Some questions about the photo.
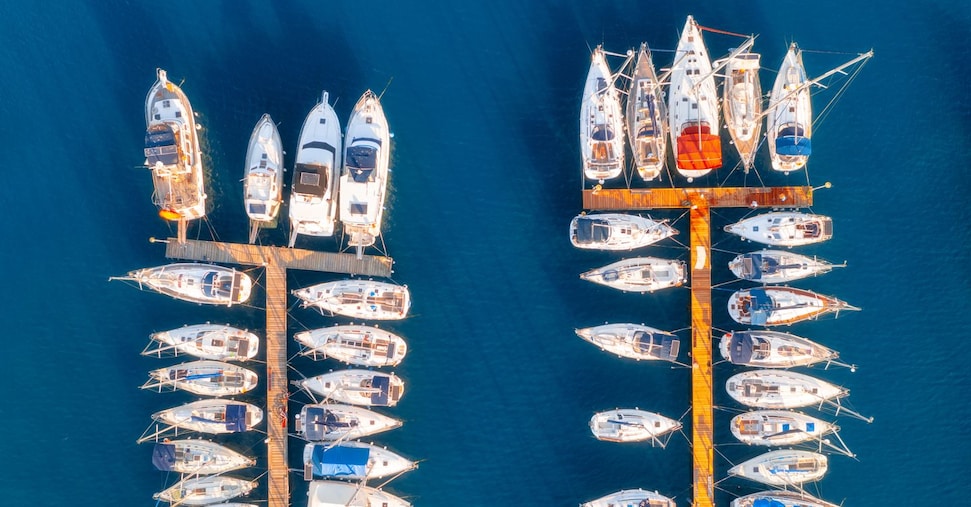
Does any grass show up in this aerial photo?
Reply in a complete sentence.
No, the scene doesn't show any grass.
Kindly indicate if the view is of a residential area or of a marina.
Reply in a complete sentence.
The picture captures a marina.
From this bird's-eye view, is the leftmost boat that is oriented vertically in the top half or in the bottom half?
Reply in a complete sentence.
The leftmost boat that is oriented vertically is in the top half of the image.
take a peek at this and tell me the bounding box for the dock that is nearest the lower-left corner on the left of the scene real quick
[166,238,394,507]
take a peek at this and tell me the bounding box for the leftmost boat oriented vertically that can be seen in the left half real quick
[130,66,213,244]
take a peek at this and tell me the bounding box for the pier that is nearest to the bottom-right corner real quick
[583,187,812,507]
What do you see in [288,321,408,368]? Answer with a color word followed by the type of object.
white boat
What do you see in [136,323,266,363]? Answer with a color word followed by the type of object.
white boat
